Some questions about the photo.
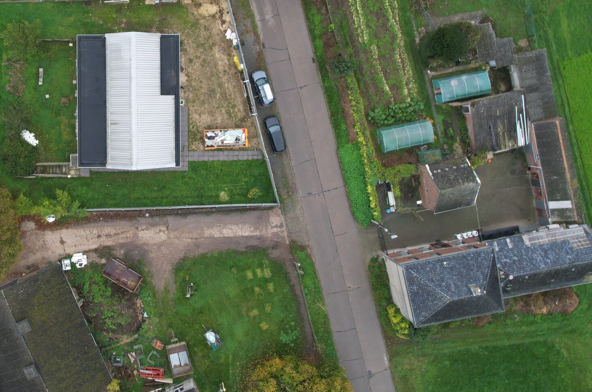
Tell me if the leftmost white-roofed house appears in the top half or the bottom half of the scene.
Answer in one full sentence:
Seen from above, the leftmost white-roofed house lies in the top half of the view.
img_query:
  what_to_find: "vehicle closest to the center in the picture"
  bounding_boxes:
[265,116,288,153]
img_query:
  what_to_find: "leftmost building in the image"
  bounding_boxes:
[0,258,120,392]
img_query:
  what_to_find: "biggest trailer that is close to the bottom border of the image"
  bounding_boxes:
[168,338,193,380]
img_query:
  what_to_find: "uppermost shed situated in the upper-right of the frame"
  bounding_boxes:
[469,23,515,66]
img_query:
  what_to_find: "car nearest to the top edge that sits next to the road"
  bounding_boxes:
[252,69,275,107]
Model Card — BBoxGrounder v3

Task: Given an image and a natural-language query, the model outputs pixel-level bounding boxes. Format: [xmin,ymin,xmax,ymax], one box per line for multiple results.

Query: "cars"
[265,116,288,153]
[252,69,275,107]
